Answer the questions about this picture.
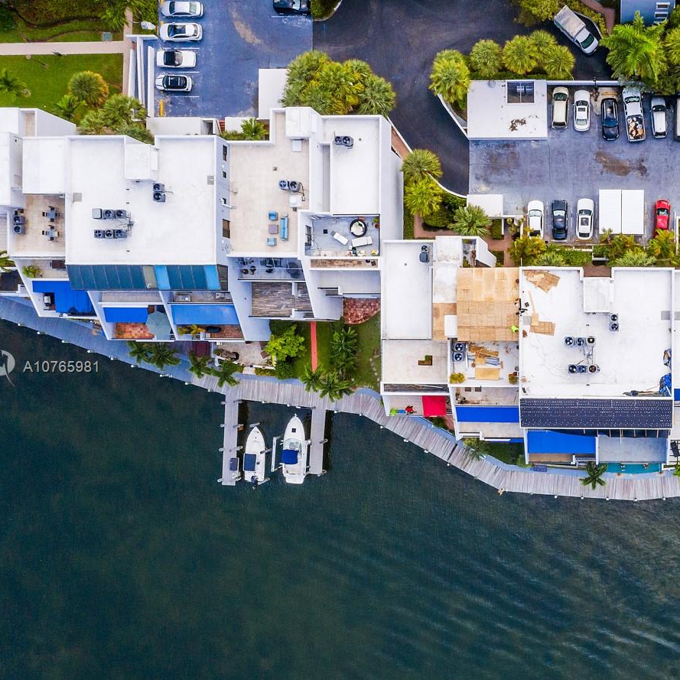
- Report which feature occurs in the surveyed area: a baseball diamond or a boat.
boat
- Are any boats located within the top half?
No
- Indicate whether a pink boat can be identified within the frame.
No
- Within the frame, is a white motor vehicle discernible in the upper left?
Yes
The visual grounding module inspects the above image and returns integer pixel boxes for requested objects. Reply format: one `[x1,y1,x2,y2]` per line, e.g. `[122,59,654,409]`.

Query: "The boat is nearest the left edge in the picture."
[245,425,267,492]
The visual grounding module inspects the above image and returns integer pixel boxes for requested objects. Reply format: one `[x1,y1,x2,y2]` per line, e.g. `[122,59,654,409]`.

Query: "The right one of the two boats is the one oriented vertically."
[281,415,310,488]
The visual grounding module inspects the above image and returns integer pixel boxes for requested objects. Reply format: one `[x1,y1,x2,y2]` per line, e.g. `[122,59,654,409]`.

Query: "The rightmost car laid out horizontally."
[272,0,313,17]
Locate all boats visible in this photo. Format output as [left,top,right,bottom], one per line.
[245,425,267,492]
[281,415,310,488]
